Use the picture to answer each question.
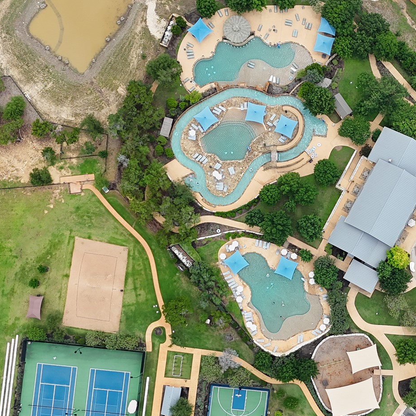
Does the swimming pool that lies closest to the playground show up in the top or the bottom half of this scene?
bottom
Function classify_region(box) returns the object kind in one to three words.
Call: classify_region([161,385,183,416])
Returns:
building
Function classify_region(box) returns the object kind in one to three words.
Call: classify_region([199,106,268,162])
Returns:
swimming pool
